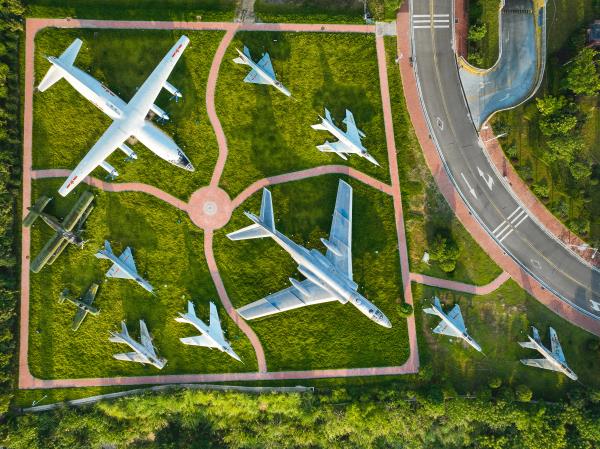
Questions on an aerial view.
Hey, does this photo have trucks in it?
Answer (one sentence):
No, I can't see a single truck in this photo.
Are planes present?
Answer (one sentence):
Yes, a plane appears in the view.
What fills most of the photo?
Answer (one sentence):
Most of the picture is covered by grass.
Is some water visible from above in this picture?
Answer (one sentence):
No, the picture contains no water.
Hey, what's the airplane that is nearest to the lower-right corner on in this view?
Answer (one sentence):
The airplane that is nearest to the lower-right corner is on the grass.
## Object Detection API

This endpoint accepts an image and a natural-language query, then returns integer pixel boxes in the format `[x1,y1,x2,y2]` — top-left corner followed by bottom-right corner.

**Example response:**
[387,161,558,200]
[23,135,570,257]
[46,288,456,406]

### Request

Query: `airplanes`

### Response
[309,107,381,169]
[233,46,295,101]
[93,240,161,294]
[175,301,250,361]
[107,318,166,370]
[58,283,100,331]
[422,296,485,354]
[35,37,193,194]
[227,179,391,327]
[517,325,579,383]
[23,192,93,272]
